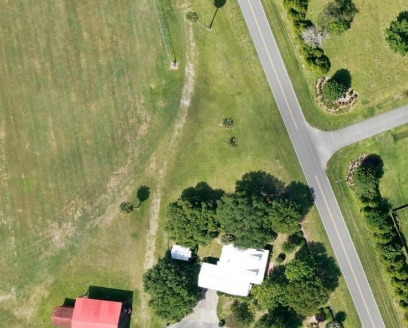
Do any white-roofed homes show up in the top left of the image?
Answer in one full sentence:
No, I see no white-roofed home in the top left of the image.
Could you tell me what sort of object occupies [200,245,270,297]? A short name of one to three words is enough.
house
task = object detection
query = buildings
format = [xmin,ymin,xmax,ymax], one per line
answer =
[200,245,270,297]
[171,245,193,261]
[71,297,128,328]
